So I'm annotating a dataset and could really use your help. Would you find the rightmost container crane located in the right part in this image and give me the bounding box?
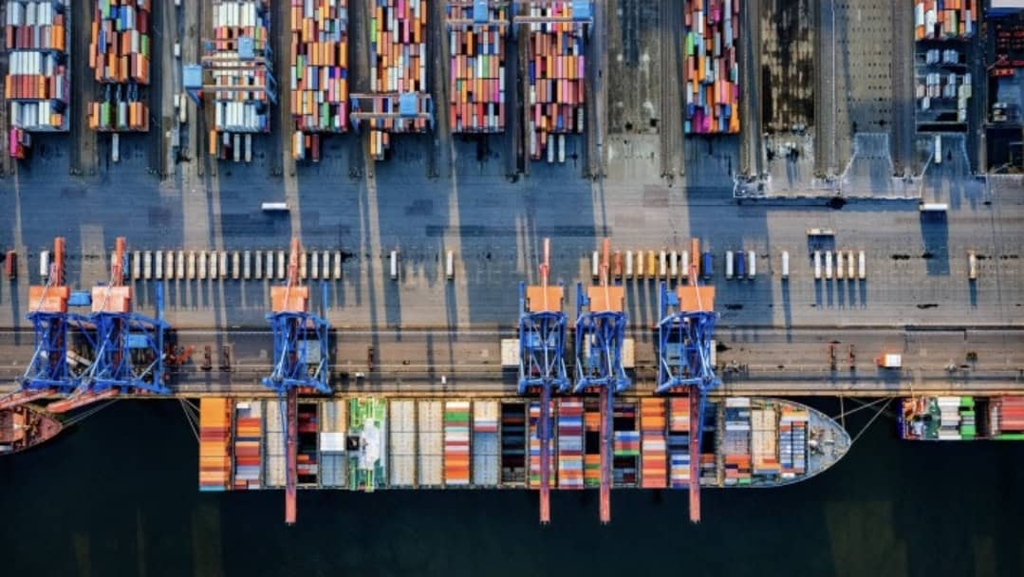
[650,240,719,524]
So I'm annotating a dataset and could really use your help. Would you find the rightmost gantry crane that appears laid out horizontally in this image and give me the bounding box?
[514,0,594,33]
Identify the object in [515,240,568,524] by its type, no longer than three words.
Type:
container crane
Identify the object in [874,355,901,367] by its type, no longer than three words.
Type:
vehicle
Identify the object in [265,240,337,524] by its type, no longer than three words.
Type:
container crane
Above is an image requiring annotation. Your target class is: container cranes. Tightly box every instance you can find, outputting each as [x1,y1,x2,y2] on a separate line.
[569,240,629,524]
[351,94,434,126]
[265,240,337,524]
[515,240,568,524]
[202,41,280,71]
[183,65,280,98]
[39,240,181,425]
[514,0,594,33]
[650,240,719,524]
[446,1,512,34]
[0,240,117,419]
